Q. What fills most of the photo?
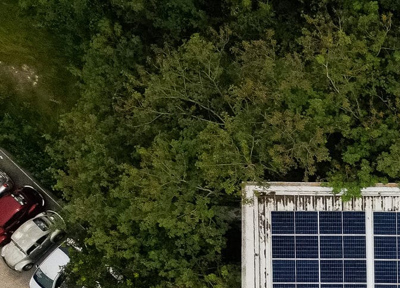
trees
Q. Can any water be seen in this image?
No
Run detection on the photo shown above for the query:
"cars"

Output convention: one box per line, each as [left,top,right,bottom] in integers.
[31,239,82,288]
[5,217,69,278]
[0,187,43,251]
[0,167,17,199]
